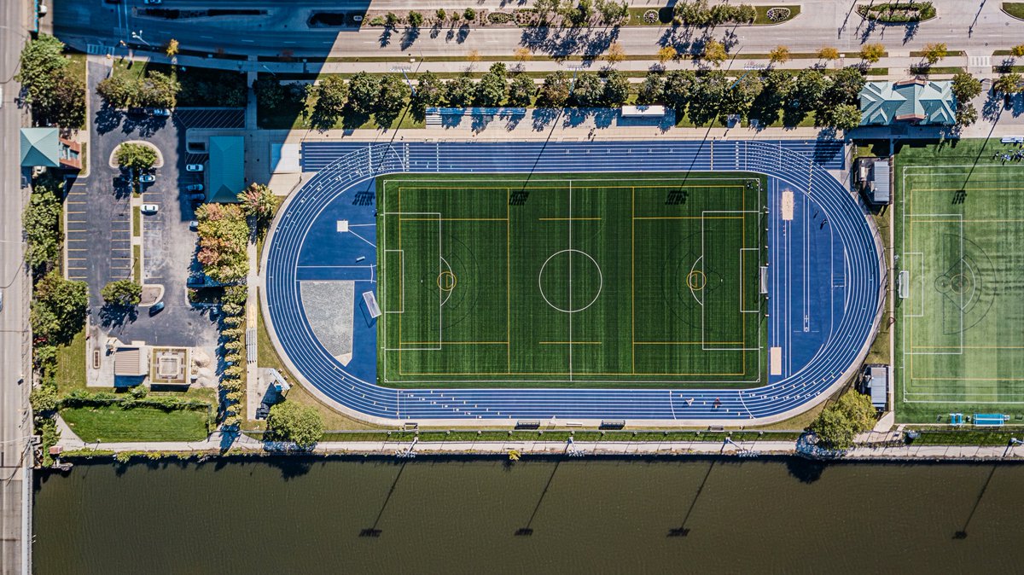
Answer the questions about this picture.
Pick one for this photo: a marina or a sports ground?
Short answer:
sports ground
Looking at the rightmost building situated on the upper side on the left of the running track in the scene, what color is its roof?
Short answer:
blue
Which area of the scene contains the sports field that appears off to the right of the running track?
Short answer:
right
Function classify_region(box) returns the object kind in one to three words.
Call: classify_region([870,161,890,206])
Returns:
shed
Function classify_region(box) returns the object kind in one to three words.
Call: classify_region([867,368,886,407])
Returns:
shed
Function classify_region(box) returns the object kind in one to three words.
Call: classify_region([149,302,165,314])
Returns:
vehicle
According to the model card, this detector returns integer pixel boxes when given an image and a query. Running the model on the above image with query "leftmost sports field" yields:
[376,172,768,389]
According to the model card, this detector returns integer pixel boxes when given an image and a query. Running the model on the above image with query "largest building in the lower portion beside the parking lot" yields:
[151,345,197,385]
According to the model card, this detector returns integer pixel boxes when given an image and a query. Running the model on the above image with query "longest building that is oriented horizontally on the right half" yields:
[856,78,959,125]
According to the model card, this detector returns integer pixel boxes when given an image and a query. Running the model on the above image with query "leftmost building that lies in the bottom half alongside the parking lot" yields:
[115,344,150,374]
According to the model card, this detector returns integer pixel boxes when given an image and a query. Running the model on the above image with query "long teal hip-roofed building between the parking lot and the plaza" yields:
[209,136,246,202]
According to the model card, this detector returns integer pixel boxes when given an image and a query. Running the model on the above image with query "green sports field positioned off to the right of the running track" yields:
[894,138,1024,424]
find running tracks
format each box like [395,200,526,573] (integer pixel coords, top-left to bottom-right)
[266,140,881,421]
